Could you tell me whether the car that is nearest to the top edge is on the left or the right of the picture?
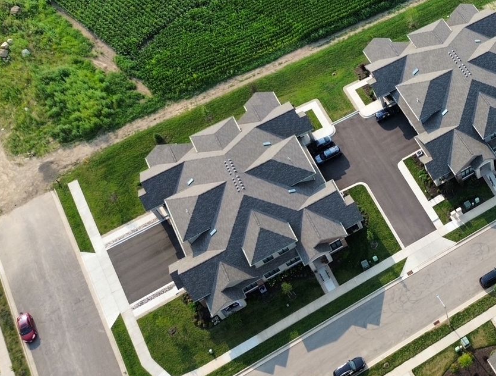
right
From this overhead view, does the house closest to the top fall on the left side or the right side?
right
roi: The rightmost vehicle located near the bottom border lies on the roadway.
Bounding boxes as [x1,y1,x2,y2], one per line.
[330,354,369,376]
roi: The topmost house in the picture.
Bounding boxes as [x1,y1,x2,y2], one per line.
[360,0,496,197]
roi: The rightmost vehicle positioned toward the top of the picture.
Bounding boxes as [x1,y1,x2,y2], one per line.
[372,103,398,123]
